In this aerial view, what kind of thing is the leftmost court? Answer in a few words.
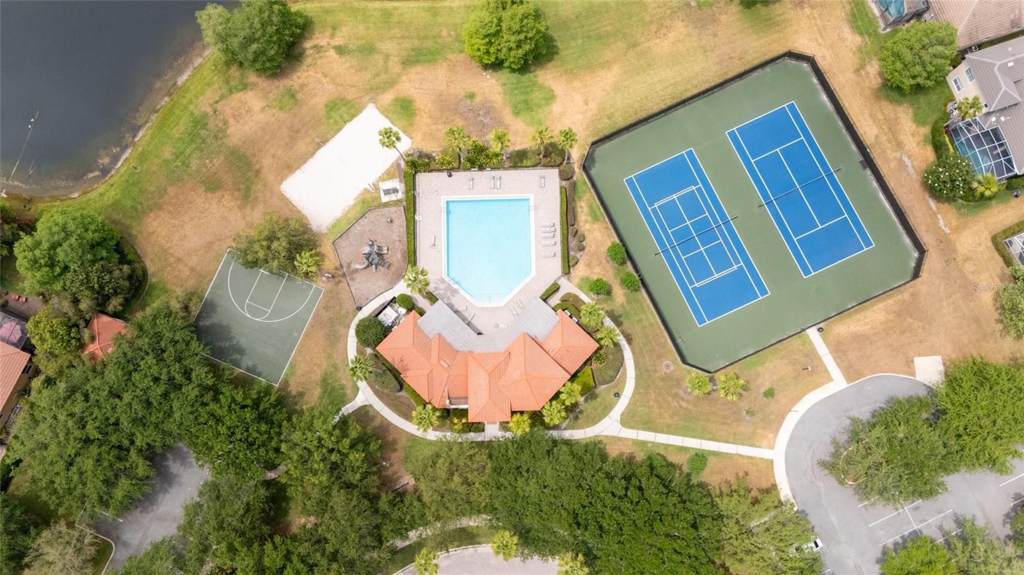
basketball court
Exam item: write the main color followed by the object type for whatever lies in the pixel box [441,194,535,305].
white swimming pool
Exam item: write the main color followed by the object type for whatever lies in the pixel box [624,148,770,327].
blue tennis court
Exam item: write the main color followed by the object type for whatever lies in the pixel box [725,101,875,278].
blue tennis court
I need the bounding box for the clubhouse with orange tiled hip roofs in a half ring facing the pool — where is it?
[376,310,598,424]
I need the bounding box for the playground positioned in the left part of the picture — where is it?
[331,205,408,307]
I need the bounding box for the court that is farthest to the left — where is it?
[190,250,324,387]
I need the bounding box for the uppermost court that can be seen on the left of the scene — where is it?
[281,104,411,231]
